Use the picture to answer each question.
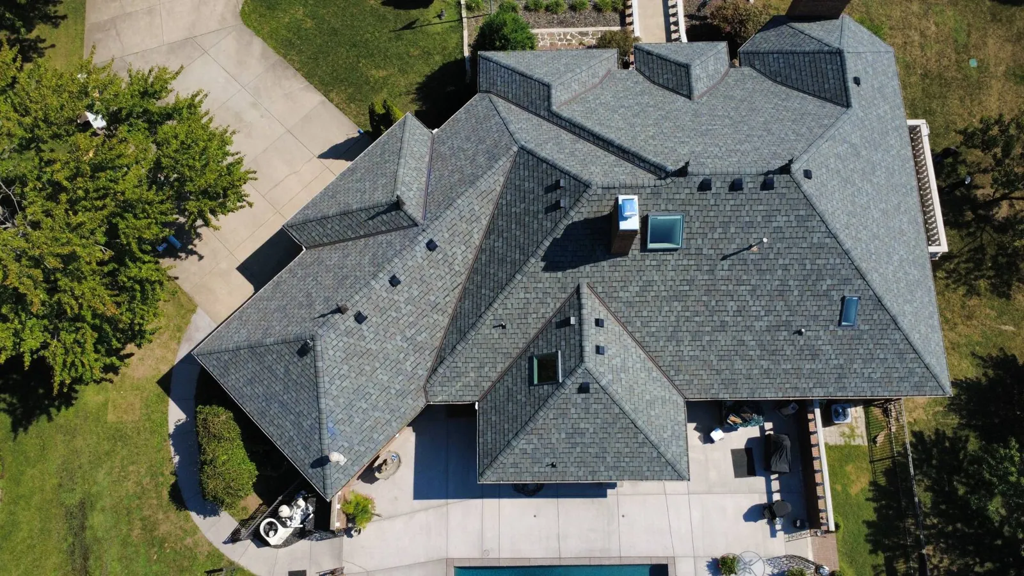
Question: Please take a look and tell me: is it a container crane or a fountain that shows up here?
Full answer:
Looking from above, you can make out a fountain.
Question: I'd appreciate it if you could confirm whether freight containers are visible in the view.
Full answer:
No, the frame has no freight container in it.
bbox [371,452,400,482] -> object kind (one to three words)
fountain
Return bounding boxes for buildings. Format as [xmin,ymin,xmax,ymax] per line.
[193,0,956,503]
